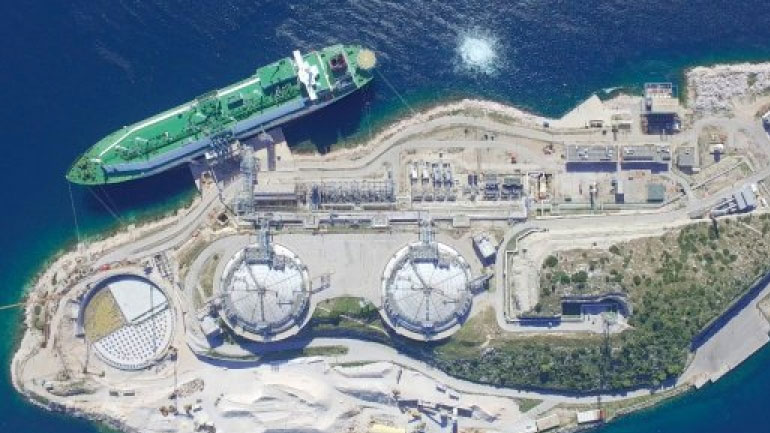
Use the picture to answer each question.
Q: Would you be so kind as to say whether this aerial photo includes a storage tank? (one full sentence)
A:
Yes, I can see a storage tank in this picture.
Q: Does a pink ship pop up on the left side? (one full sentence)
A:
No, I can find no pink ship on the left side.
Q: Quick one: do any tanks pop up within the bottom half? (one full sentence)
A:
Yes, the scene does show a tank within the bottom half.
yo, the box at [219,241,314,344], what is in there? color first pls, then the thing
white storage tank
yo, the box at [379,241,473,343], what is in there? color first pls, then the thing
white storage tank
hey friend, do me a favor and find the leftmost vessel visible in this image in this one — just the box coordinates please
[66,41,375,183]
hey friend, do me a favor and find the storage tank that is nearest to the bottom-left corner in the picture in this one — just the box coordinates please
[77,272,176,373]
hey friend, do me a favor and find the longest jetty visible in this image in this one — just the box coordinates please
[187,127,294,200]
